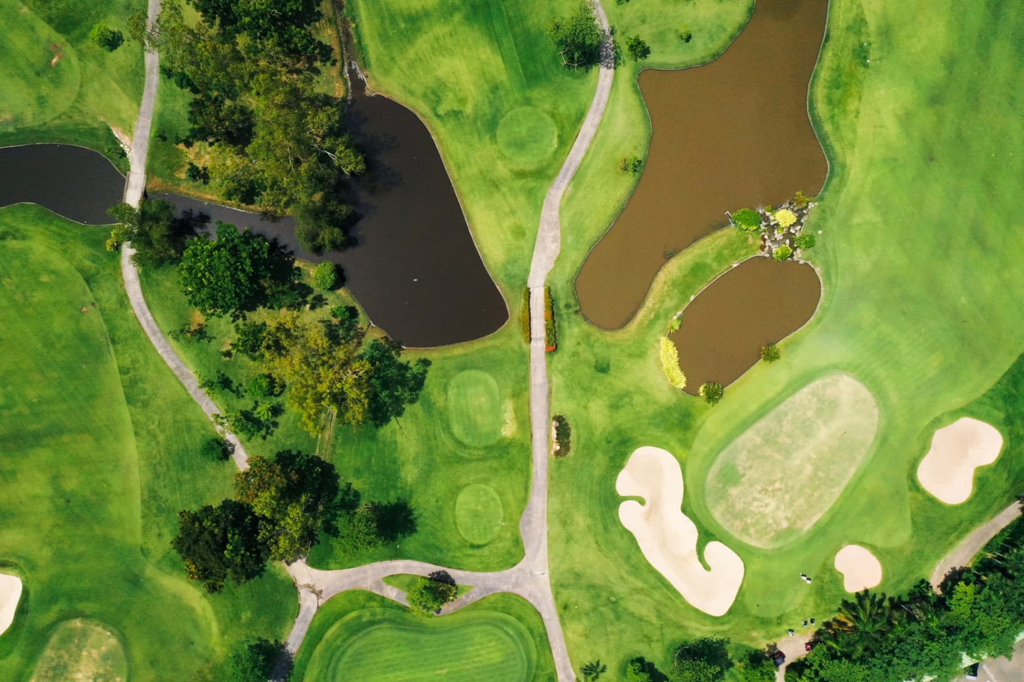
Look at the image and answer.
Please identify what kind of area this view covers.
golf course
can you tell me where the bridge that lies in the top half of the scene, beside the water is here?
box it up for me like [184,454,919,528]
[117,171,147,226]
